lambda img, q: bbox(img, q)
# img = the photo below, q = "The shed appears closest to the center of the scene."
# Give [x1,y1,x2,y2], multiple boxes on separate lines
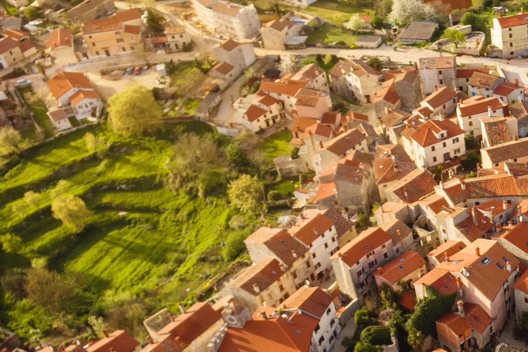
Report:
[275,152,309,180]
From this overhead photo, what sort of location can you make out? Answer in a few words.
residential area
